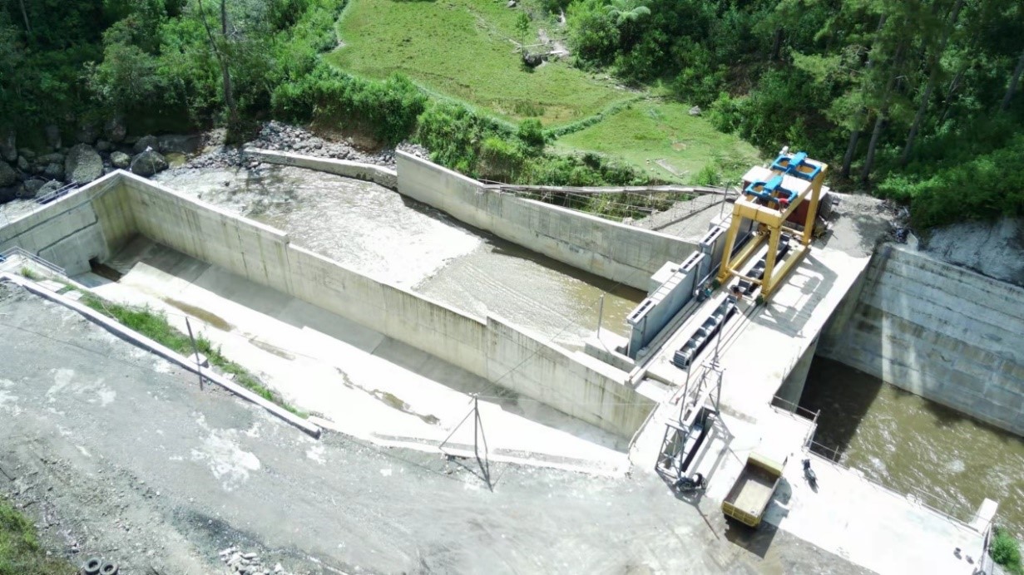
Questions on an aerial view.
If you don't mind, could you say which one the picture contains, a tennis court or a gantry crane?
gantry crane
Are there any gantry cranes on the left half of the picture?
No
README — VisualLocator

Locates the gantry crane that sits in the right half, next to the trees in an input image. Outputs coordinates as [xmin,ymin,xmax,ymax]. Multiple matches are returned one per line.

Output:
[715,151,826,298]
